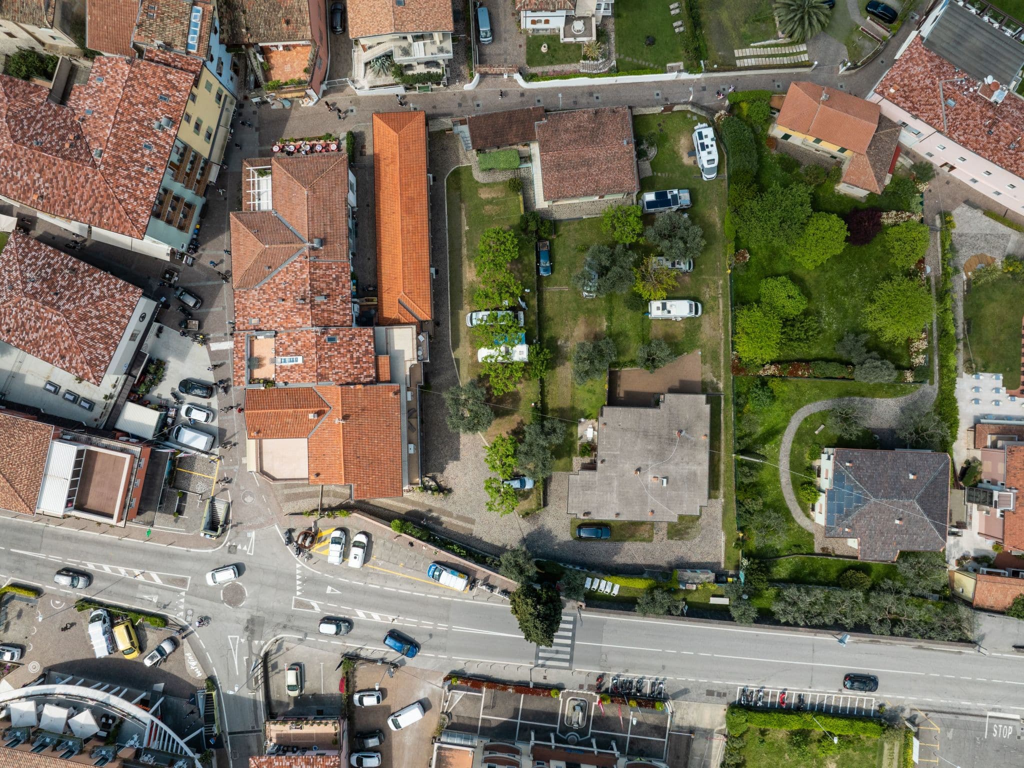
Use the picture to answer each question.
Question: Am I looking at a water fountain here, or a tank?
water fountain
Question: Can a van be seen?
Yes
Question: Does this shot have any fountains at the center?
No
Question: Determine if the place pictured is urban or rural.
urban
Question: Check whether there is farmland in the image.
No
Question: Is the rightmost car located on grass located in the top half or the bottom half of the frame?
top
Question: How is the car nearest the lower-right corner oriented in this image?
from side to side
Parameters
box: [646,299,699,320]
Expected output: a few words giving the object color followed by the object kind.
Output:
white camper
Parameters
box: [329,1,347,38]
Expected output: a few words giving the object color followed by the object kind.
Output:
black car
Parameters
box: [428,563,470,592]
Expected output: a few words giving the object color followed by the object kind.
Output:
white van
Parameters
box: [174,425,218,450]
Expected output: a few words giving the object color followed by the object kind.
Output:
white vehicle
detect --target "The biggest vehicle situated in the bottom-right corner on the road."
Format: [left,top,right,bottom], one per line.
[840,672,876,692]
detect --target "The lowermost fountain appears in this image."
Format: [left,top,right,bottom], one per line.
[566,693,590,727]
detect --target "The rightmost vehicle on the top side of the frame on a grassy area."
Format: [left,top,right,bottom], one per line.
[861,1,900,27]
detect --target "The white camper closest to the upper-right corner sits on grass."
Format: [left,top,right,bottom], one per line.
[689,121,719,184]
